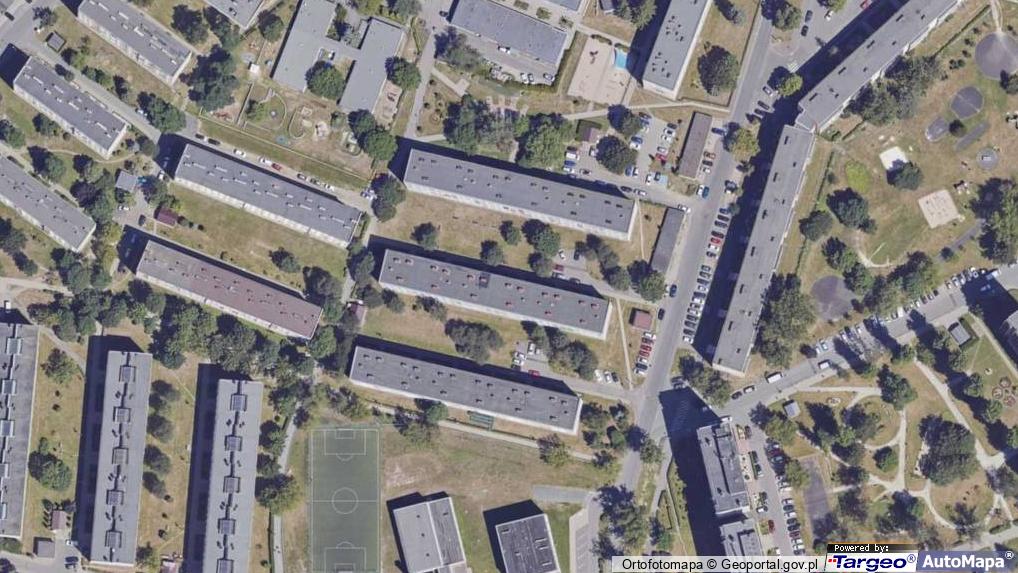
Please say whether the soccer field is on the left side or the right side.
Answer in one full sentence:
The soccer field is on the left side of the image.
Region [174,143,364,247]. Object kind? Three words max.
building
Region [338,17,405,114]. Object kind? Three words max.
building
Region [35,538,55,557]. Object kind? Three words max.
shed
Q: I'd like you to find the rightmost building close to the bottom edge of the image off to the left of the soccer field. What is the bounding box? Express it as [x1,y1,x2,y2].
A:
[202,376,267,573]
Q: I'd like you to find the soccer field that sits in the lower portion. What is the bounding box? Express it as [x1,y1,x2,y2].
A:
[306,423,381,573]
